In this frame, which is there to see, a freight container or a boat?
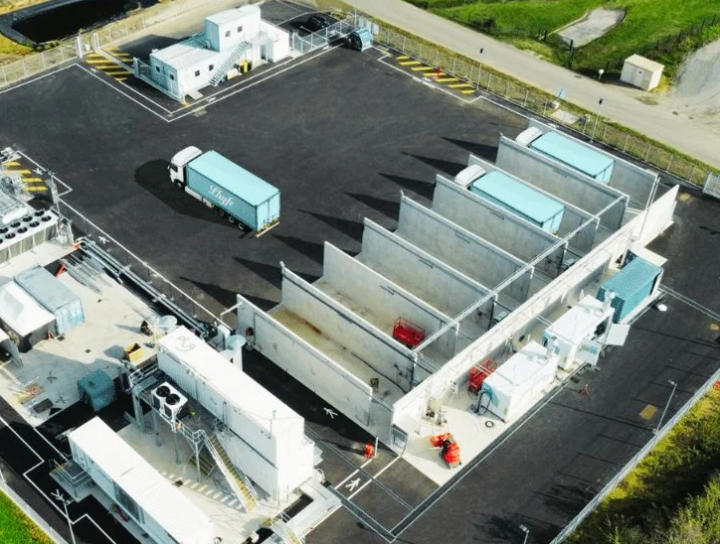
freight container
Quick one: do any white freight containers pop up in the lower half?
Yes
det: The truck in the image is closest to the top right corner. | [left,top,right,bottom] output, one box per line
[514,126,615,184]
